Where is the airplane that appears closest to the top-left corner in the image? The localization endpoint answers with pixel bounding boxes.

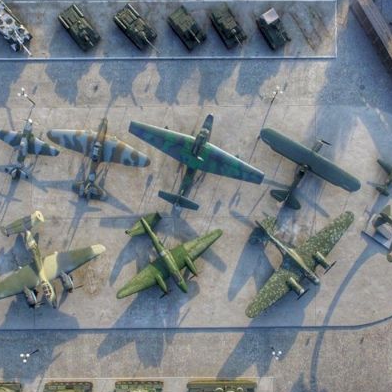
[0,118,59,179]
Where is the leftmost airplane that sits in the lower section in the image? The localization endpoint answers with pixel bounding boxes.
[0,211,106,311]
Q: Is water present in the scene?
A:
No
